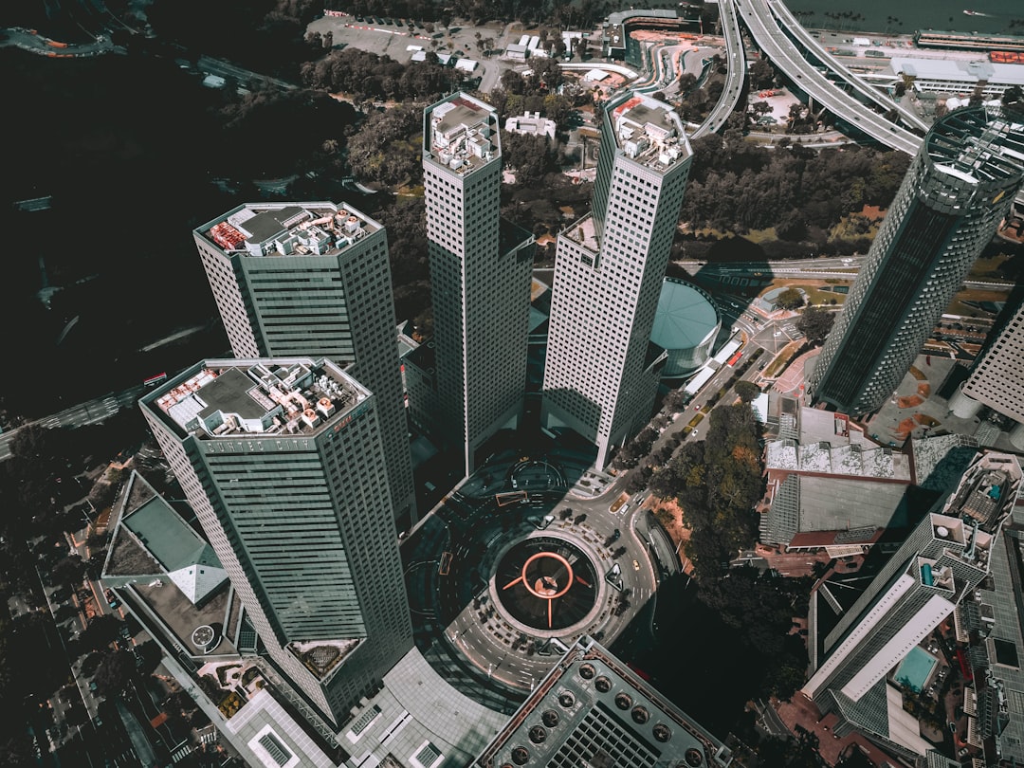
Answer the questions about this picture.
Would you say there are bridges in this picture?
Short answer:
Yes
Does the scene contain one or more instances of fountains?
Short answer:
Yes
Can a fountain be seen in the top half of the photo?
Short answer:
No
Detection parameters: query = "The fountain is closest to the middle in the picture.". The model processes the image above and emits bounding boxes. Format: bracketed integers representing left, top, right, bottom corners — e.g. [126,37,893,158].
[488,527,607,638]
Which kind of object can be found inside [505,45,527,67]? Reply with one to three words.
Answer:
shed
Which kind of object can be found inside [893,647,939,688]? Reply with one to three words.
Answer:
swimming pool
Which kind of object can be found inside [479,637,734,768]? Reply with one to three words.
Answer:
building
